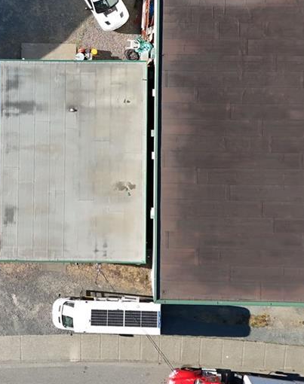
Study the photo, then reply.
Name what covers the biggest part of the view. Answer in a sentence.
The largest share of the image is taken up by buildings.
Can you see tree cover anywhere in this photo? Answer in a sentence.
No, there's no tree cover in this view.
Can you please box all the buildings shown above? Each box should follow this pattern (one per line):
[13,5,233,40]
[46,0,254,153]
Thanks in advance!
[0,60,148,269]
[150,0,304,306]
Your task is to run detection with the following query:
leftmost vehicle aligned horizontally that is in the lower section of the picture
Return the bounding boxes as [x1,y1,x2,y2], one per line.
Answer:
[53,292,160,338]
